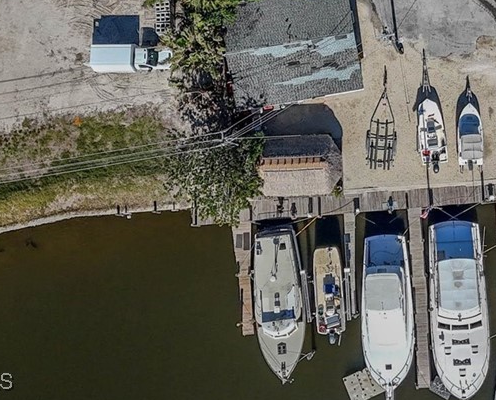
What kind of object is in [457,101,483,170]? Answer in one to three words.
boat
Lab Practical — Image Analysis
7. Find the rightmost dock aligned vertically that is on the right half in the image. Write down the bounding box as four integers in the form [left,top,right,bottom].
[405,210,433,388]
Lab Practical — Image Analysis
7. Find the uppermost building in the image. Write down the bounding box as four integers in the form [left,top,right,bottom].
[222,0,365,113]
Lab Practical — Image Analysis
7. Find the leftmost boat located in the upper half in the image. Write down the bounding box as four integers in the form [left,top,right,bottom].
[416,99,446,177]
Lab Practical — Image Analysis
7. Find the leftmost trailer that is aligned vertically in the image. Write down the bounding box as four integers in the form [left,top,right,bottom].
[367,68,397,169]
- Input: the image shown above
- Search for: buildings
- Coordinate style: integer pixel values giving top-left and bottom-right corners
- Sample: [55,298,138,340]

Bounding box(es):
[253,134,344,198]
[222,0,365,113]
